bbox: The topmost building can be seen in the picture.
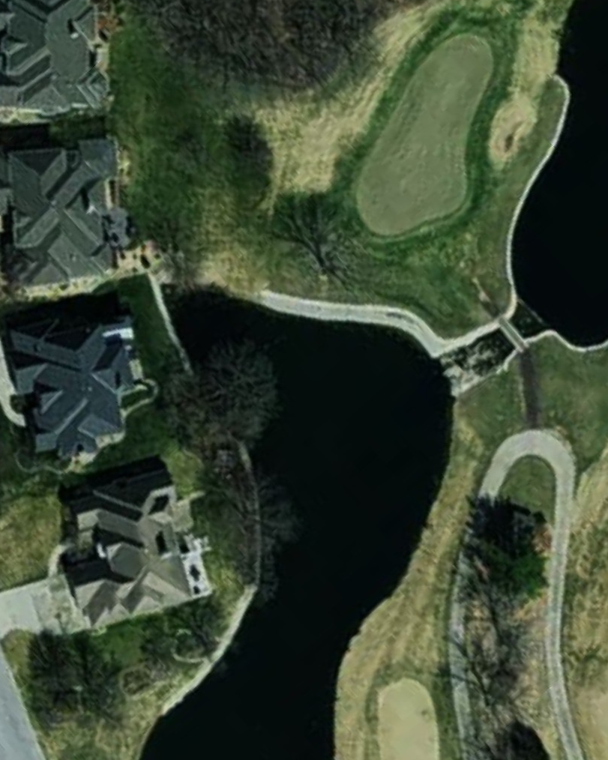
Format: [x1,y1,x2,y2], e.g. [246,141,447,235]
[0,0,108,111]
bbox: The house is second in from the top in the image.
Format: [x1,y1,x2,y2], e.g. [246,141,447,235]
[0,138,117,285]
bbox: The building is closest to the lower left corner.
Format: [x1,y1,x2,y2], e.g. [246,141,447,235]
[62,466,198,625]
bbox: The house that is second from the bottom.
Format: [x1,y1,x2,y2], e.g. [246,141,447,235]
[1,311,137,461]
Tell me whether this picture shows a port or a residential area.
residential area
